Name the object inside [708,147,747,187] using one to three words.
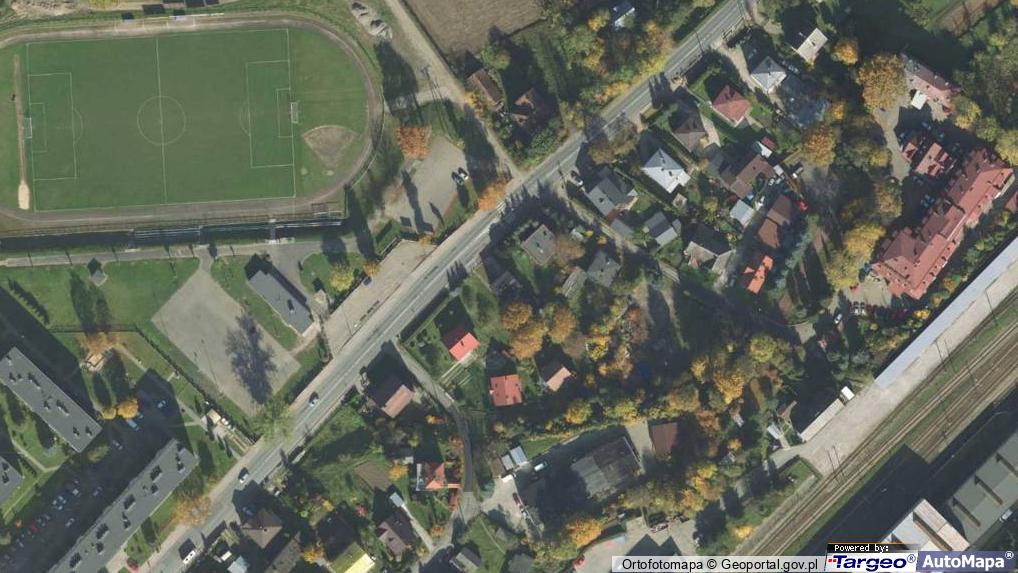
house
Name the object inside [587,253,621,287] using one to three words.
house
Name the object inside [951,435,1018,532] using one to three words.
building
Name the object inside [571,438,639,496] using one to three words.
building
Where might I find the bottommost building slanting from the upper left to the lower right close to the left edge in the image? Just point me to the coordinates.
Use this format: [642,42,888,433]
[0,345,102,454]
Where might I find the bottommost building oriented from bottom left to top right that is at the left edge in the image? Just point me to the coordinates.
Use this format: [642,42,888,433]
[36,439,199,573]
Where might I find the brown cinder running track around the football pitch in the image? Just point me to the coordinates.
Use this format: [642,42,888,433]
[0,13,385,225]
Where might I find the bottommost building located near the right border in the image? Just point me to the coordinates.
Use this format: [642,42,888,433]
[850,499,969,573]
